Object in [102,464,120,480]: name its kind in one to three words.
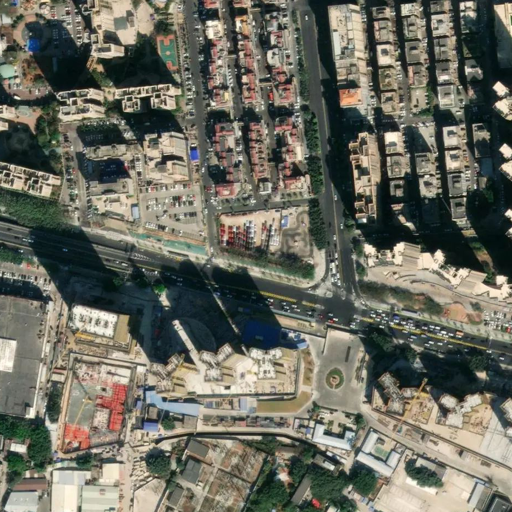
building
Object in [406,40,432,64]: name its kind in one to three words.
building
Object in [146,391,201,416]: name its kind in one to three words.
shed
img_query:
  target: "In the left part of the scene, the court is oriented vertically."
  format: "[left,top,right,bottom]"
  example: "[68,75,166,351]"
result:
[158,35,178,70]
